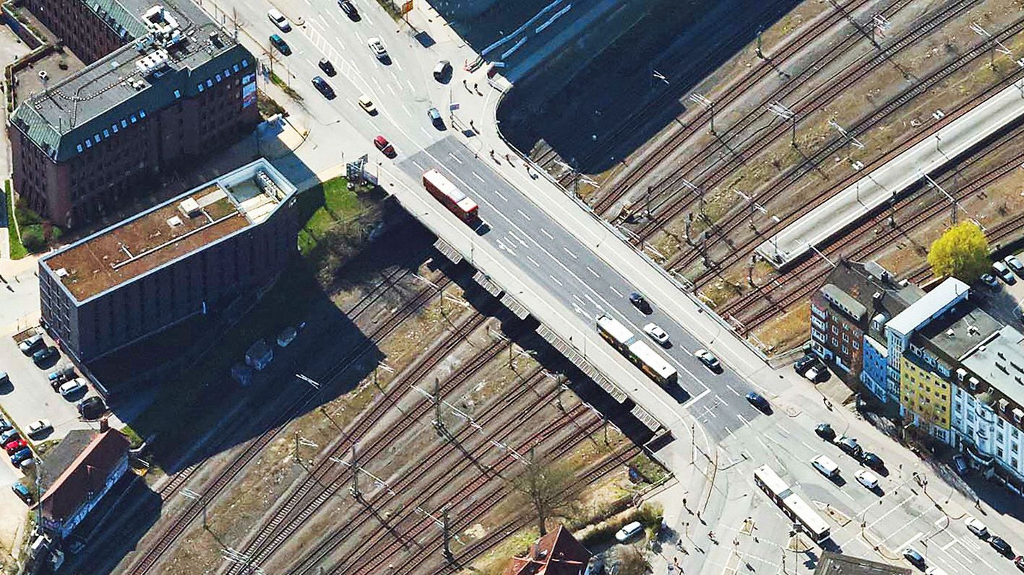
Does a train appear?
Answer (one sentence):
No, I can see no train in this picture.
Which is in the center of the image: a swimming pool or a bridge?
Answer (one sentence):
There is a bridge in the center of the image.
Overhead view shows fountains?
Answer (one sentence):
No, this view has no fountain in it.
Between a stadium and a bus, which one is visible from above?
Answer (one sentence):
The image shows a bus.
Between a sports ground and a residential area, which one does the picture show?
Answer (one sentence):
What you see here is a residential area.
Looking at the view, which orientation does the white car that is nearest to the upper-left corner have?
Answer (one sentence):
Seen from above, the white car that is nearest to the upper-left corner lies at an angle.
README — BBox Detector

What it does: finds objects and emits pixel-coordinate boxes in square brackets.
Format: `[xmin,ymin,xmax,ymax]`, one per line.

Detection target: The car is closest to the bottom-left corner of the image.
[10,484,33,504]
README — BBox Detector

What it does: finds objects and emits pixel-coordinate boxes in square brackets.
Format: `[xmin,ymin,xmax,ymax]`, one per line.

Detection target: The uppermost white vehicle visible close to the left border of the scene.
[17,333,46,353]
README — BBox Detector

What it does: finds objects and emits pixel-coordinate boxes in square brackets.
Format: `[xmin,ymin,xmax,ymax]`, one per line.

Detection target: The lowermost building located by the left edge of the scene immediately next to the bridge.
[39,157,302,377]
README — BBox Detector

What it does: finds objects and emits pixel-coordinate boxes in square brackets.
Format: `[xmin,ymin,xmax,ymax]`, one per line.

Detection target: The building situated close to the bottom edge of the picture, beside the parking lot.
[28,415,135,553]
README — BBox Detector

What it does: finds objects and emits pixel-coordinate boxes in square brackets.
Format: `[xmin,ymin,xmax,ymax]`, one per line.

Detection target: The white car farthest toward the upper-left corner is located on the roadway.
[267,10,292,31]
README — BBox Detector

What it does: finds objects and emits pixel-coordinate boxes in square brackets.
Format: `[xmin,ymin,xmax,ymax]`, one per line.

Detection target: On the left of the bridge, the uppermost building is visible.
[9,0,259,228]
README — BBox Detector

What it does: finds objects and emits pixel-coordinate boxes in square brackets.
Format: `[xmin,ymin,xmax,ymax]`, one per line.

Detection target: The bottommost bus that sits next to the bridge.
[753,465,832,546]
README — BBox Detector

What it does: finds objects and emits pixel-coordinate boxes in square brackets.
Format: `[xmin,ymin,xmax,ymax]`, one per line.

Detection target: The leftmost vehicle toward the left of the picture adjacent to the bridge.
[373,137,395,156]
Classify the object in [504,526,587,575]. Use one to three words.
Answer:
house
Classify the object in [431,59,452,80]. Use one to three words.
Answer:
car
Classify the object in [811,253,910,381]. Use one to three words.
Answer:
house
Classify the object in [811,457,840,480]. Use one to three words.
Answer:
vehicle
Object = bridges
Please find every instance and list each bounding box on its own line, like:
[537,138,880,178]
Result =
[390,83,770,442]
